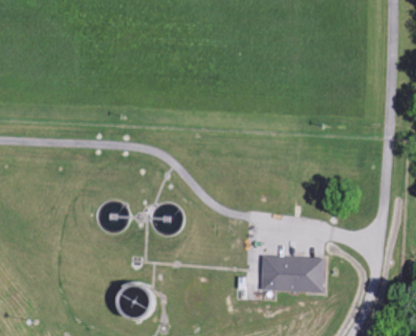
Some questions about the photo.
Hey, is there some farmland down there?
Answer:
Yes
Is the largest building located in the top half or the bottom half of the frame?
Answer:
bottom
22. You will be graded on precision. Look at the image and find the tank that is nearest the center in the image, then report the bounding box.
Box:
[151,200,186,236]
